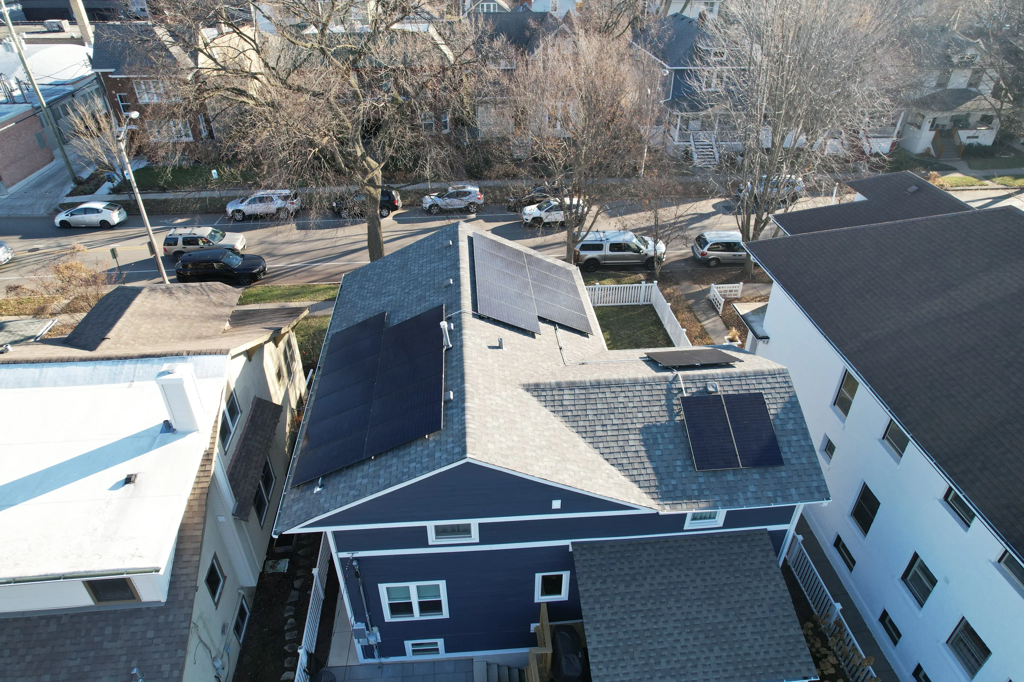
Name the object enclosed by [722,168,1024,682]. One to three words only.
house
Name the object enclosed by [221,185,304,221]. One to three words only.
car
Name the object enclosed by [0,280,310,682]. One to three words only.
house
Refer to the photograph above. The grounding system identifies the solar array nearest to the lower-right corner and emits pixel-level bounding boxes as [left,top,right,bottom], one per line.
[678,393,785,472]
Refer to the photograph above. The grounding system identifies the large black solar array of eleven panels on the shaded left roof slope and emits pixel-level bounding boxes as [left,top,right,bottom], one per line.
[291,303,445,489]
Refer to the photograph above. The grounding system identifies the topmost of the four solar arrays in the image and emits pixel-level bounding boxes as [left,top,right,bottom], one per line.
[472,234,593,336]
